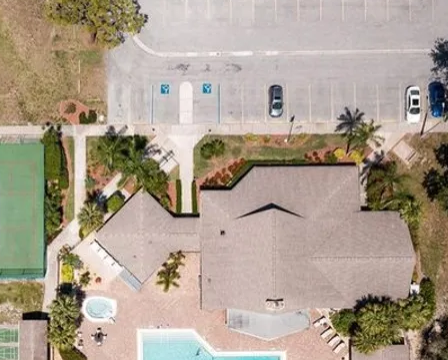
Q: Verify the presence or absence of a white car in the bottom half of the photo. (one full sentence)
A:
No, no white car can be made out in the bottom half of the photo.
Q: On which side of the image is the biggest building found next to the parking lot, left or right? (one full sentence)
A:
It is on the right.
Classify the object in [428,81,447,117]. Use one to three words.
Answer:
car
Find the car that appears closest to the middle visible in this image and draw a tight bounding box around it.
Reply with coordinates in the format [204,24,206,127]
[269,83,286,116]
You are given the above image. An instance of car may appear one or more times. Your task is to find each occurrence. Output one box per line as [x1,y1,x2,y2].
[428,81,447,117]
[269,83,286,116]
[406,85,425,121]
